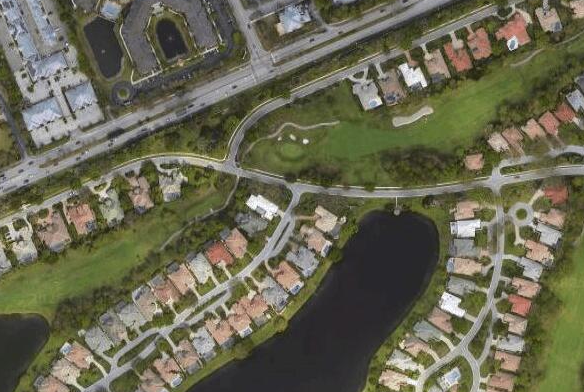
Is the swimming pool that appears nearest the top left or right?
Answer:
left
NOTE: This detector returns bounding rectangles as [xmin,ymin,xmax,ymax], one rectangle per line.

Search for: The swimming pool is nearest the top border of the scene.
[100,1,122,21]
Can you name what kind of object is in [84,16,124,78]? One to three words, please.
pond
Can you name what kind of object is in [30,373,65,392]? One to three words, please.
house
